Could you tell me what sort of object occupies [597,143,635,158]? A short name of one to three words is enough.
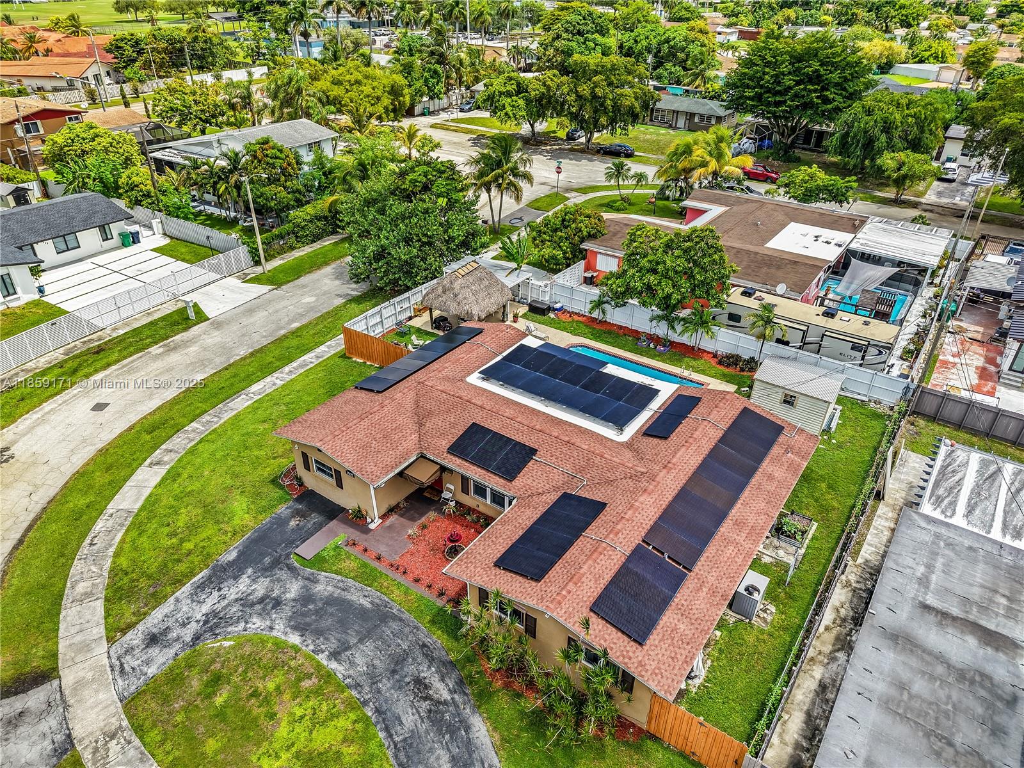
car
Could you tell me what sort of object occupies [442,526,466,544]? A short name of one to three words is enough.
fountain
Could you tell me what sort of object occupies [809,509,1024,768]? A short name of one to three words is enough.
building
